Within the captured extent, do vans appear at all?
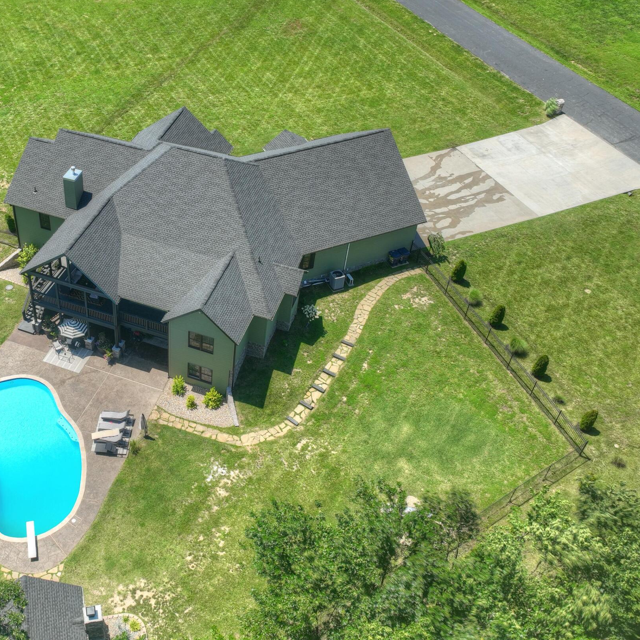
No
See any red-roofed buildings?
No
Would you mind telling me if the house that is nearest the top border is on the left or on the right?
left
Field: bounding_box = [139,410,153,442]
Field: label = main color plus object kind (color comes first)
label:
gray umbrella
